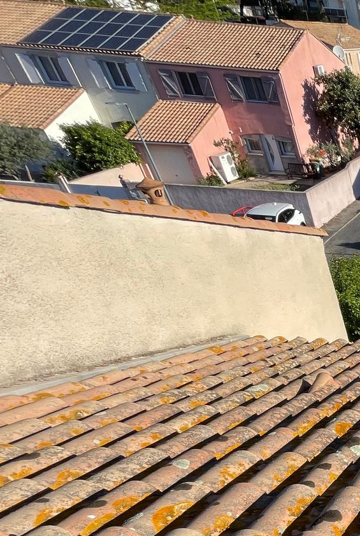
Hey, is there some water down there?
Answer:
No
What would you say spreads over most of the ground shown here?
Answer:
buildings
